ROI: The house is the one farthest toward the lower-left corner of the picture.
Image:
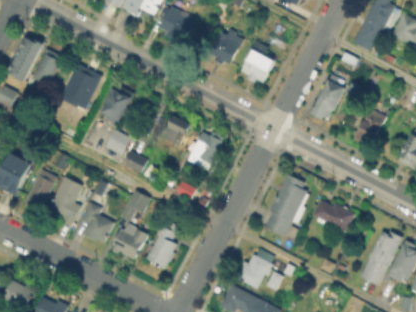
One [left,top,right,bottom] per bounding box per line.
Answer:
[6,280,35,302]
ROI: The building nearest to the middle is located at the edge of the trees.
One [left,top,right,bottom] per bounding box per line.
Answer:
[189,133,222,171]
